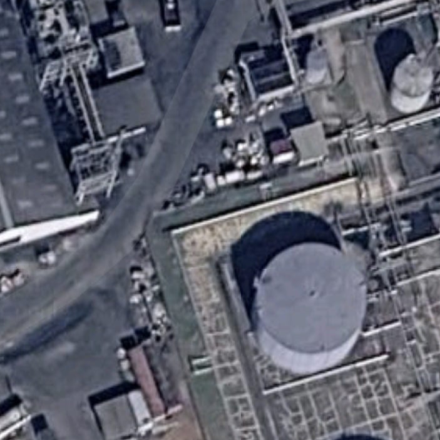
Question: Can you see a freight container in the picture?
Yes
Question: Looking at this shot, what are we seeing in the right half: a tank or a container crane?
tank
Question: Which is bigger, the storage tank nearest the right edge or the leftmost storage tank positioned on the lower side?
the leftmost storage tank positioned on the lower side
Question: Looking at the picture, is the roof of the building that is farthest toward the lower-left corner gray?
Yes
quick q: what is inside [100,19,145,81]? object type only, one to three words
shed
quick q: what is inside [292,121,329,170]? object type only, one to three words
shed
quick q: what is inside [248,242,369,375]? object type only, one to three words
storage tank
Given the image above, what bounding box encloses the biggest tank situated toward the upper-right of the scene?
[388,49,434,117]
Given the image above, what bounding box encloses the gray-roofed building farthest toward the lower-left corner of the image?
[95,395,138,440]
